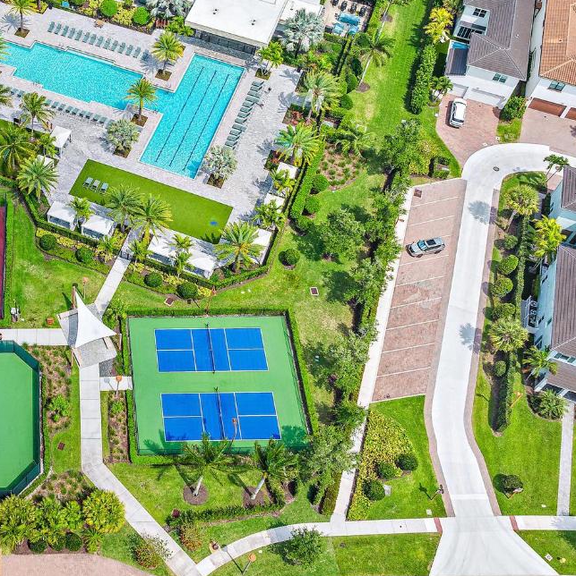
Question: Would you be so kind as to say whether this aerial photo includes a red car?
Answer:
No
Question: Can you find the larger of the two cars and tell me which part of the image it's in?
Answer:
right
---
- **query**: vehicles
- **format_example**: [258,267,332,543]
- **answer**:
[449,99,468,125]
[406,235,446,257]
